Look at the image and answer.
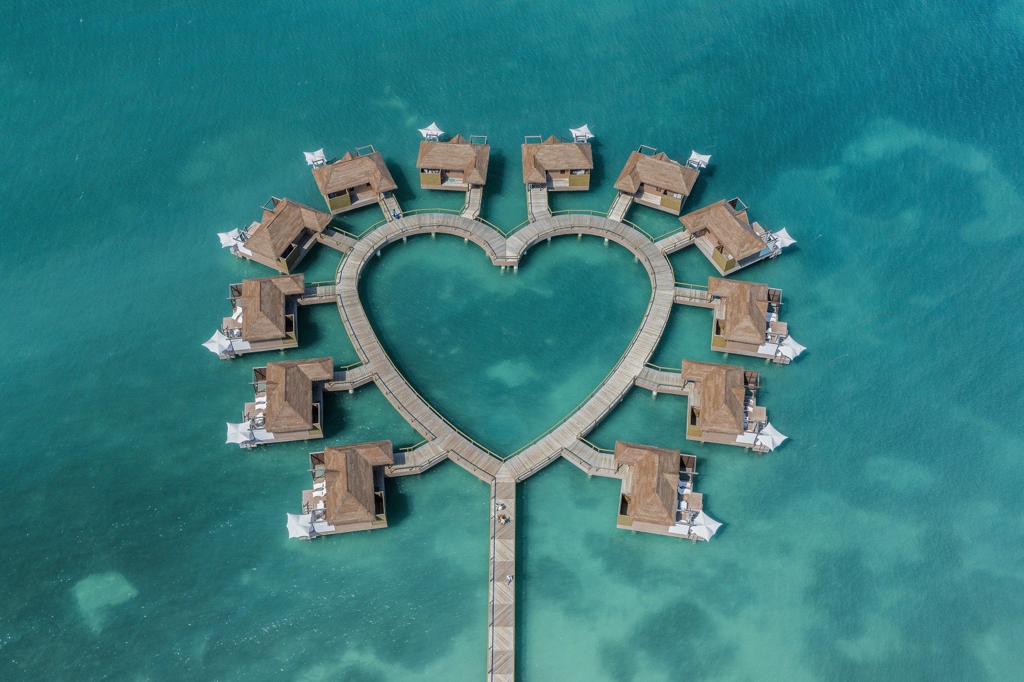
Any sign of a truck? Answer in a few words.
No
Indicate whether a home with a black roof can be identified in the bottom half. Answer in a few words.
No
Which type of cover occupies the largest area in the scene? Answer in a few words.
water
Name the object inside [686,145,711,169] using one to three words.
umbrella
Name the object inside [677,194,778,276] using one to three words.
house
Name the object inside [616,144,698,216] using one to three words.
house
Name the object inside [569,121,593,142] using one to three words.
umbrella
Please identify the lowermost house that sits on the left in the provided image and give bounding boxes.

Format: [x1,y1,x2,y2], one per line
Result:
[300,438,394,543]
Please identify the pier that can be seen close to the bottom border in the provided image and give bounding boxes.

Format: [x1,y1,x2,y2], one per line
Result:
[485,479,516,682]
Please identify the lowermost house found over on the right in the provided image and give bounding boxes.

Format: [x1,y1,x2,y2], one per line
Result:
[613,440,705,546]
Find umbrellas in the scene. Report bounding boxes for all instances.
[769,223,797,248]
[417,118,441,141]
[760,422,790,450]
[569,121,593,142]
[685,508,723,544]
[301,144,327,168]
[226,420,248,447]
[778,332,810,361]
[217,227,238,251]
[686,145,711,169]
[202,329,233,356]
[284,510,313,540]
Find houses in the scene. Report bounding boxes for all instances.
[416,130,489,197]
[679,358,768,456]
[613,440,705,546]
[233,194,335,274]
[300,438,394,543]
[241,356,332,452]
[677,194,778,276]
[314,144,394,215]
[706,275,789,366]
[521,131,593,197]
[221,272,307,361]
[616,144,698,216]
